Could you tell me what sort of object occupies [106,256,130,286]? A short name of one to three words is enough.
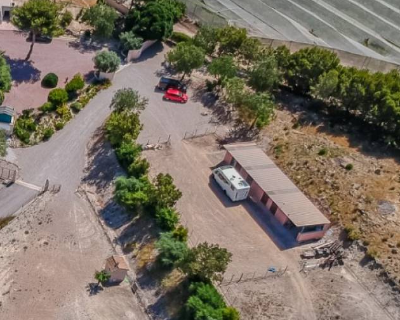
shed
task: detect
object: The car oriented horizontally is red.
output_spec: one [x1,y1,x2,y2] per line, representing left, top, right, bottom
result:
[163,89,188,102]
